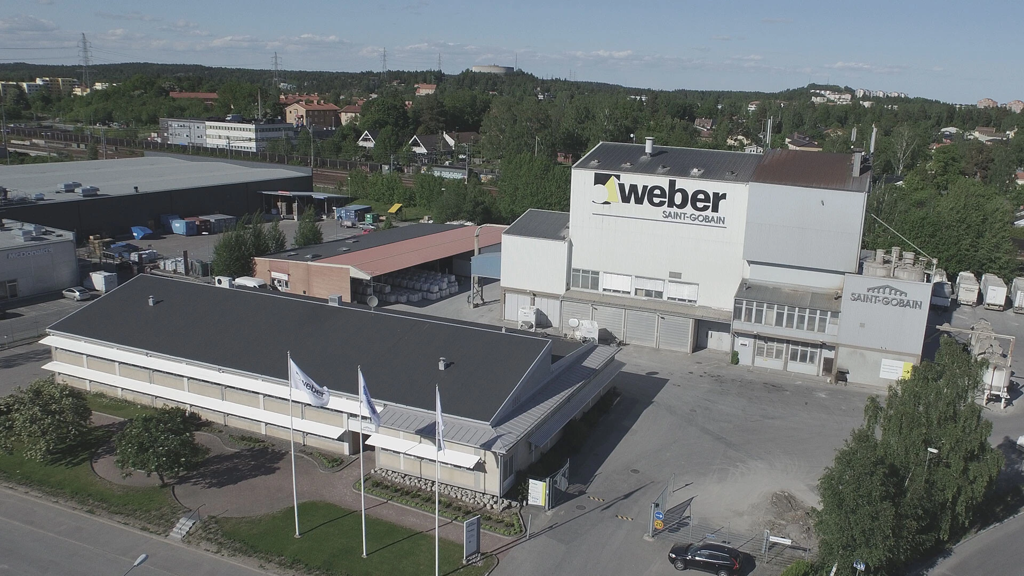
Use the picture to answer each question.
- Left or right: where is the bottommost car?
right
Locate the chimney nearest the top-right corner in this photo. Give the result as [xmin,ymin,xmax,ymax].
[854,146,870,170]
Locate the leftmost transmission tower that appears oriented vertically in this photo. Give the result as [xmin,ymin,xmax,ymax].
[73,33,96,95]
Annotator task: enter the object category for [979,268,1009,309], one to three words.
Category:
truck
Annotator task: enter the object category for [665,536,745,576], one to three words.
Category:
car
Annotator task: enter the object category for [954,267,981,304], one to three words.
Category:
truck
